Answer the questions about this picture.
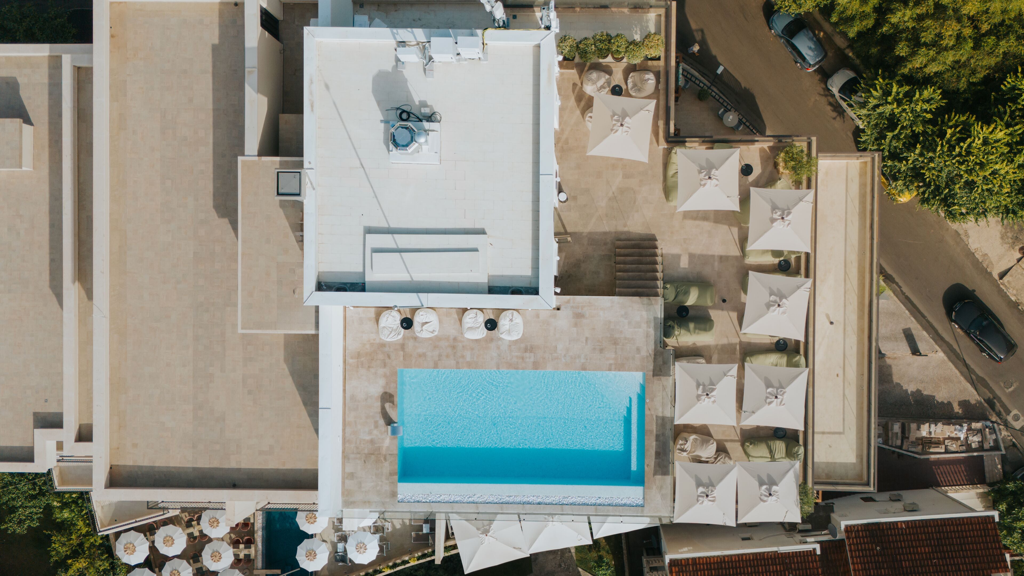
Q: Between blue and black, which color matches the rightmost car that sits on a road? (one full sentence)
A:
From above, the rightmost car that sits on a road appears black.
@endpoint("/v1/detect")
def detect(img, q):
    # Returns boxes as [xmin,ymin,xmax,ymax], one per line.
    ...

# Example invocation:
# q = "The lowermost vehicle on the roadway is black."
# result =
[941,291,1024,369]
